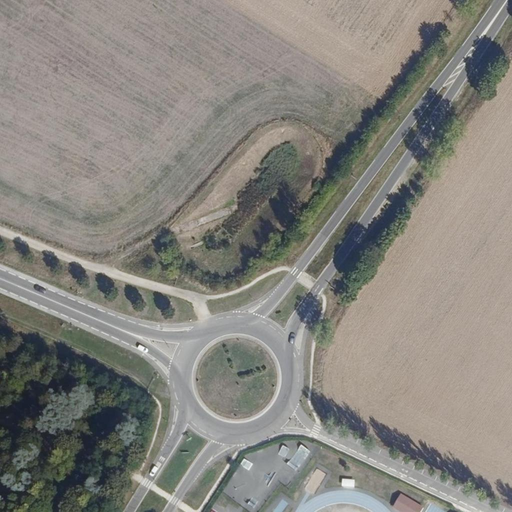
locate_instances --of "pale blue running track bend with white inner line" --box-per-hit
[294,490,392,512]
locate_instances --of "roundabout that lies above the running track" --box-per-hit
[141,270,326,496]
